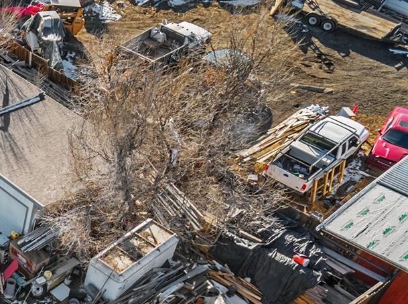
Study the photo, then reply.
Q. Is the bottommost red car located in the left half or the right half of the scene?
right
